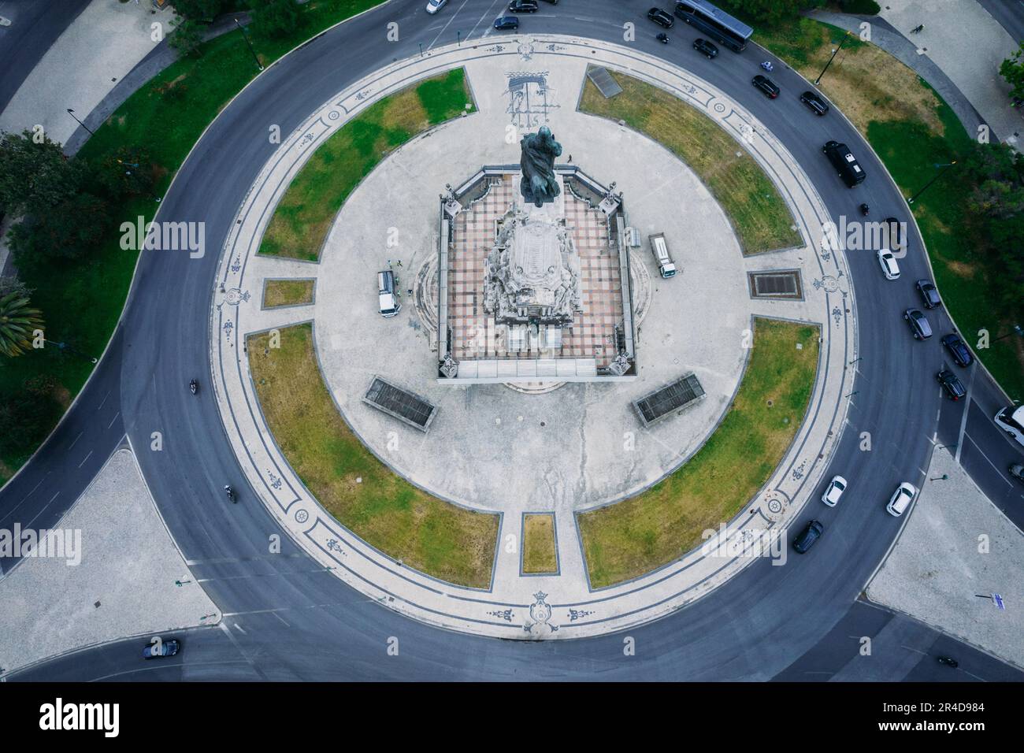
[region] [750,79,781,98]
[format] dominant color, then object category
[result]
black car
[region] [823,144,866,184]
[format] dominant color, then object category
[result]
black vehicle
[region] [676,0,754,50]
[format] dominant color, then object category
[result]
blue bus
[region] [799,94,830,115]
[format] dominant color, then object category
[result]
black car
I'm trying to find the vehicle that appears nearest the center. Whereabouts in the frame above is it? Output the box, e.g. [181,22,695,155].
[377,273,402,318]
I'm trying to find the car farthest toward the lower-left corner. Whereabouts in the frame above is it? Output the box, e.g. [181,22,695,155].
[140,638,183,660]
